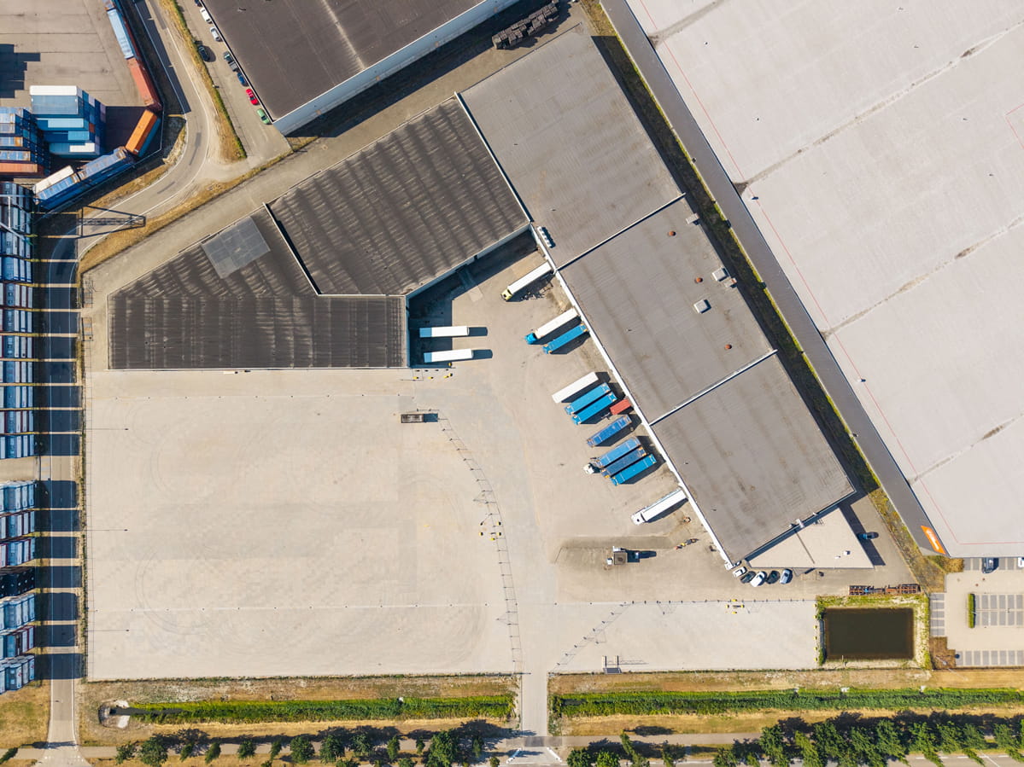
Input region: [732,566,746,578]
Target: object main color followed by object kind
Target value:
white vehicle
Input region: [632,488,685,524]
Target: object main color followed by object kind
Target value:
white truck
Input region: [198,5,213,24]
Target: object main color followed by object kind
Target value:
white car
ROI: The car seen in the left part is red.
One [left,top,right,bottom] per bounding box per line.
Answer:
[246,88,259,106]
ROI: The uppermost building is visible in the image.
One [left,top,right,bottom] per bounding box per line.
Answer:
[204,0,533,136]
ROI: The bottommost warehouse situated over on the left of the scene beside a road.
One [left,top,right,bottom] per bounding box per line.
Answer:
[108,203,411,373]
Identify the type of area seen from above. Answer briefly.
industrial area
